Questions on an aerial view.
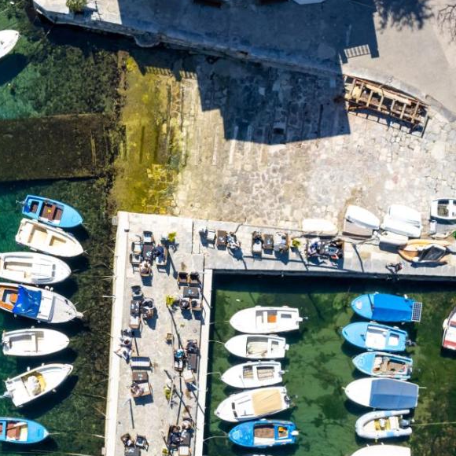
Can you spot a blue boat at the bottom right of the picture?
Yes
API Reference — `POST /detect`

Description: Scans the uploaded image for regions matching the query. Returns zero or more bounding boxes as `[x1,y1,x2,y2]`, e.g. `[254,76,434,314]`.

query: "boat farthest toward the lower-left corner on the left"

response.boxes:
[0,418,59,445]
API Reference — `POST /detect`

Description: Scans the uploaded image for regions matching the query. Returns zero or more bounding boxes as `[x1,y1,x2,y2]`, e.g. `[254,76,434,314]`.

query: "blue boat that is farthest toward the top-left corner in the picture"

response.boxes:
[16,196,112,227]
